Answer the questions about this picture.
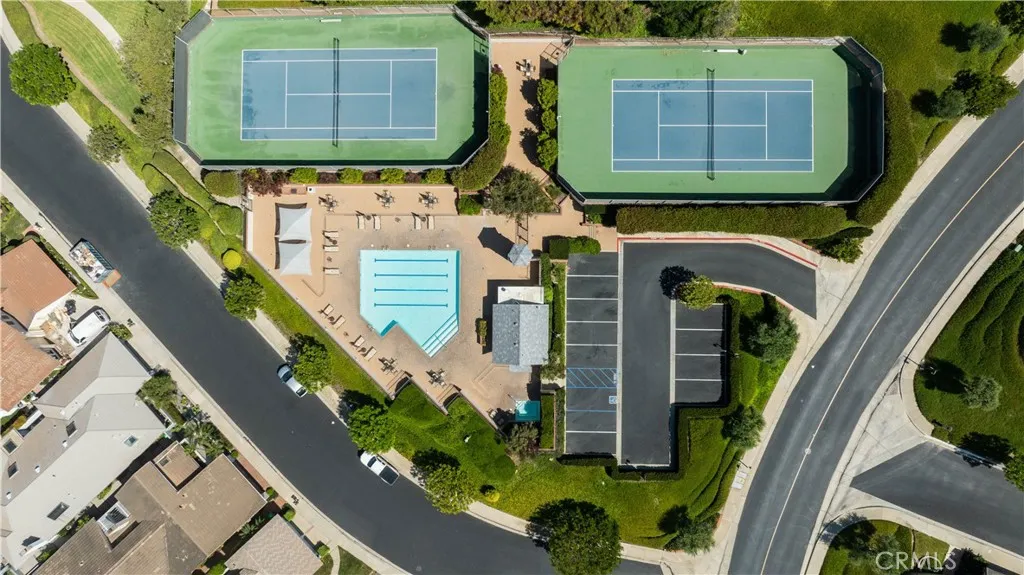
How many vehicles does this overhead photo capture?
3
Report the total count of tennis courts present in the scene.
2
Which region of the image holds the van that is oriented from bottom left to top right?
left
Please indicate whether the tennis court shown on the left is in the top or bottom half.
top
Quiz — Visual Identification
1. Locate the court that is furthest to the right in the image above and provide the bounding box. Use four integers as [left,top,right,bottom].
[556,46,866,204]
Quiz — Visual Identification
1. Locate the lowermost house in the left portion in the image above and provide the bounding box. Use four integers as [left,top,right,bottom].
[225,514,323,575]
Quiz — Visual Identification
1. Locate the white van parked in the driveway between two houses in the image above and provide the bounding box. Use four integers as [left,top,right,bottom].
[70,311,110,344]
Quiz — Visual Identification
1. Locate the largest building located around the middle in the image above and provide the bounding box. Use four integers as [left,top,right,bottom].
[493,286,548,373]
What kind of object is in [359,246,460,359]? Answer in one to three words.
swimming pool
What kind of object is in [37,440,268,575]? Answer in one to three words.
house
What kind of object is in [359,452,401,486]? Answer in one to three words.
truck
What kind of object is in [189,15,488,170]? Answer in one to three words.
tennis court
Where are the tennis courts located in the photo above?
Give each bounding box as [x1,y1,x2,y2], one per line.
[189,15,488,170]
[556,46,866,204]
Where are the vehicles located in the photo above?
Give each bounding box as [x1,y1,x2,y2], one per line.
[276,364,307,399]
[70,311,110,344]
[359,452,401,486]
